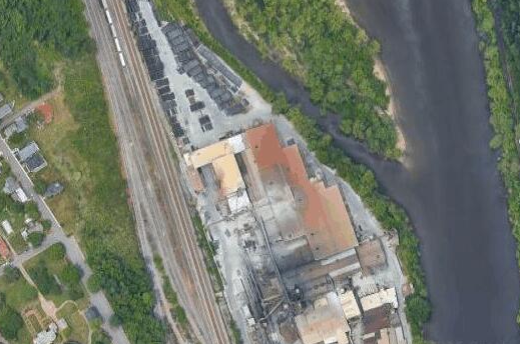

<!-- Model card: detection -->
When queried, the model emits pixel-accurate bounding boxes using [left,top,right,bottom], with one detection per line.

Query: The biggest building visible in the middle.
[245,124,358,261]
